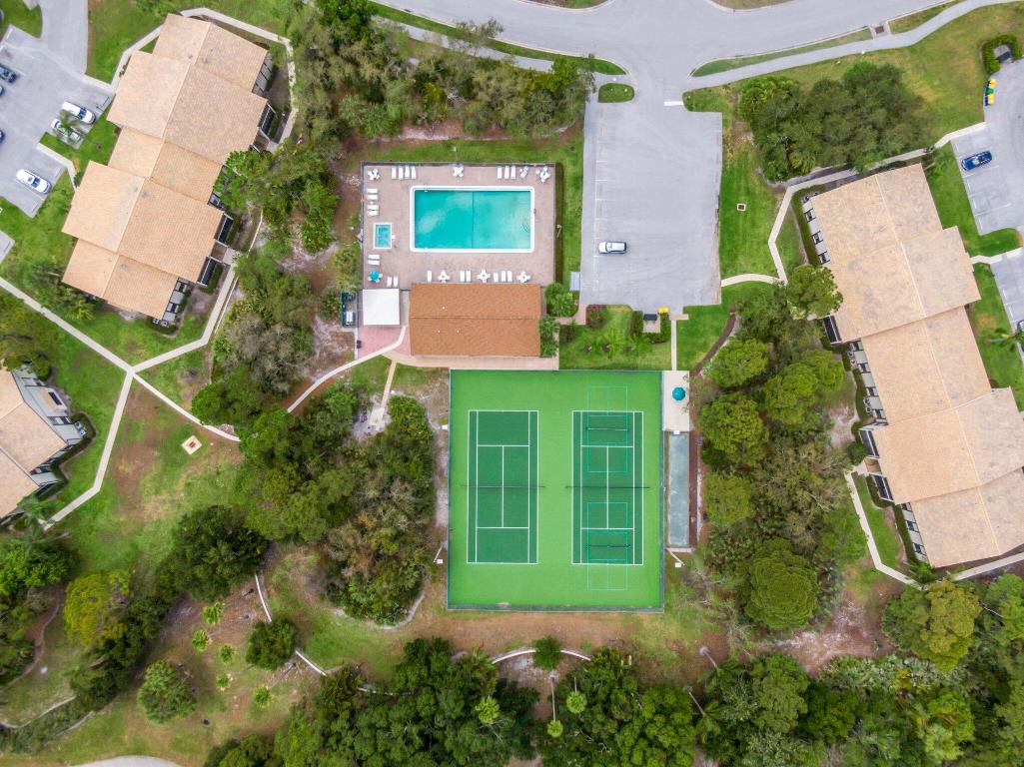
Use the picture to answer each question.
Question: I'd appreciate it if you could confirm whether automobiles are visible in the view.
Yes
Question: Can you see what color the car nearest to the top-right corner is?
blue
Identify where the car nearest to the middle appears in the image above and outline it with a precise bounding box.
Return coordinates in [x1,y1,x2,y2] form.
[599,239,627,254]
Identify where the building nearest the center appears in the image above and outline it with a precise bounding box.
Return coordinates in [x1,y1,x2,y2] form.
[407,283,541,356]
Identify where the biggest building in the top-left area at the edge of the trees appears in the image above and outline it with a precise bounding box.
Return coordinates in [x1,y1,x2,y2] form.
[62,12,278,319]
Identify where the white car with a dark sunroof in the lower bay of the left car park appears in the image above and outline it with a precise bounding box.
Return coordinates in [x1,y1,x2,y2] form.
[18,170,51,193]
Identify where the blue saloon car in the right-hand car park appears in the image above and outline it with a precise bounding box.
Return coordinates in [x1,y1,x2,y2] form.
[959,150,992,172]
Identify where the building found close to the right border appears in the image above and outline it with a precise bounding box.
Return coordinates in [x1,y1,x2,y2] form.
[805,163,1024,567]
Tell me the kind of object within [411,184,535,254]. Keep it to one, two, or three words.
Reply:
swimming pool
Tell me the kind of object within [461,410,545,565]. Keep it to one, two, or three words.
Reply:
tennis court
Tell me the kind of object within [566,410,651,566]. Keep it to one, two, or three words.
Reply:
tennis court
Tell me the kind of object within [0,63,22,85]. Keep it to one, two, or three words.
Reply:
truck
